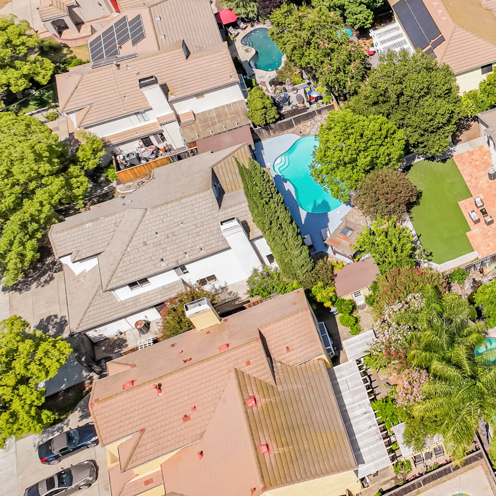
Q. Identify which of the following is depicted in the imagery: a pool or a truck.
pool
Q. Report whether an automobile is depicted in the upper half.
No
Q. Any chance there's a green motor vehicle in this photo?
No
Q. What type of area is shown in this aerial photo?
residential area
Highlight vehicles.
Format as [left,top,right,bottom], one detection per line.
[22,459,96,496]
[35,422,101,464]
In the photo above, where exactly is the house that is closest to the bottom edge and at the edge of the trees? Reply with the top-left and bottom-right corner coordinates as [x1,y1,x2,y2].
[87,289,373,496]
